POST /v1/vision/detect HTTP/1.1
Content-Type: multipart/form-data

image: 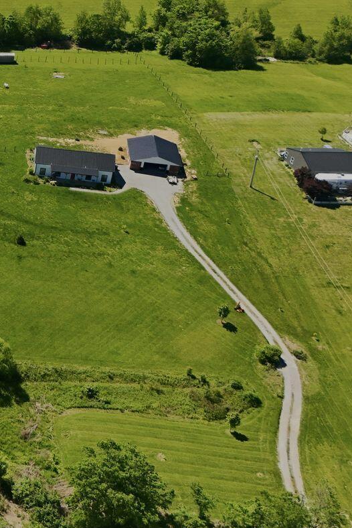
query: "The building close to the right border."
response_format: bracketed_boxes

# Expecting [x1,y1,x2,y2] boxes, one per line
[278,146,352,177]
